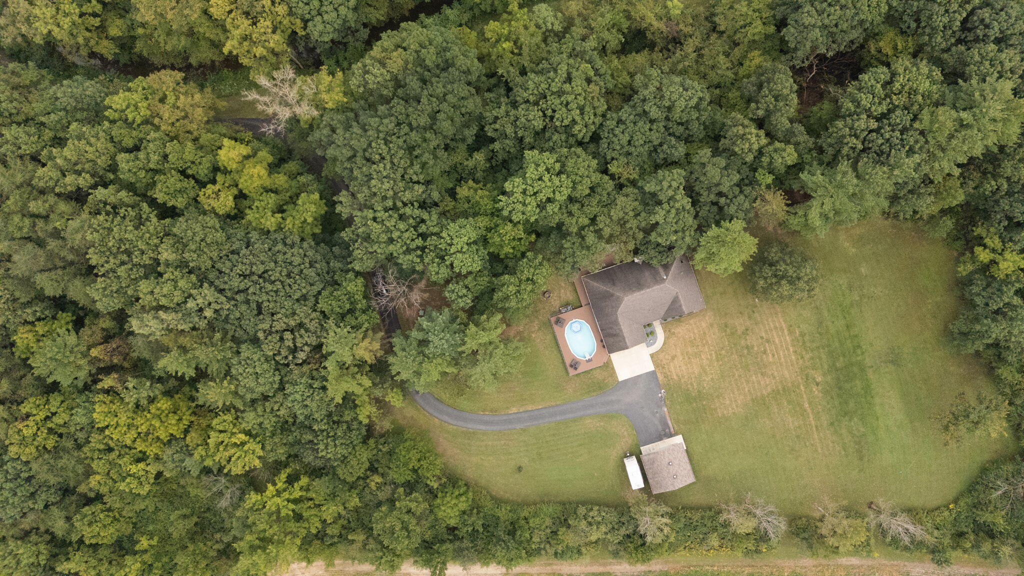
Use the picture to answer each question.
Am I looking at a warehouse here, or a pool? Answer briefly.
pool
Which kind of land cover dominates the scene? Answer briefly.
trees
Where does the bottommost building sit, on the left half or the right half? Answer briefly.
right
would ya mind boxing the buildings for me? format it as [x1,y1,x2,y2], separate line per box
[582,247,706,356]
[640,442,696,495]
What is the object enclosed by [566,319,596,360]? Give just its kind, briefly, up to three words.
swimming pool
